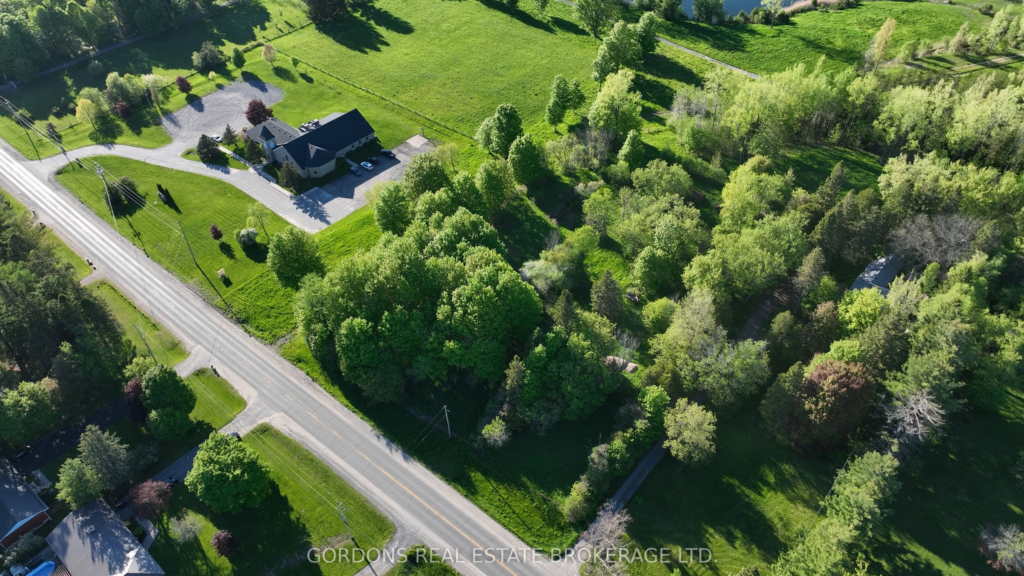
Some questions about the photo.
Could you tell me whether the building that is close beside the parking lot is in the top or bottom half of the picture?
top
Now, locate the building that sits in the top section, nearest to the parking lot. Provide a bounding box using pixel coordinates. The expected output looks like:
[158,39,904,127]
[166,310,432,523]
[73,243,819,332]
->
[244,108,375,178]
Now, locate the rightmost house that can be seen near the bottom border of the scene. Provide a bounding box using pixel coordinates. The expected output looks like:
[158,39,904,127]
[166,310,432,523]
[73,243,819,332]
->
[44,498,172,576]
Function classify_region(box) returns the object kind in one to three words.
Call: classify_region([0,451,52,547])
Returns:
house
